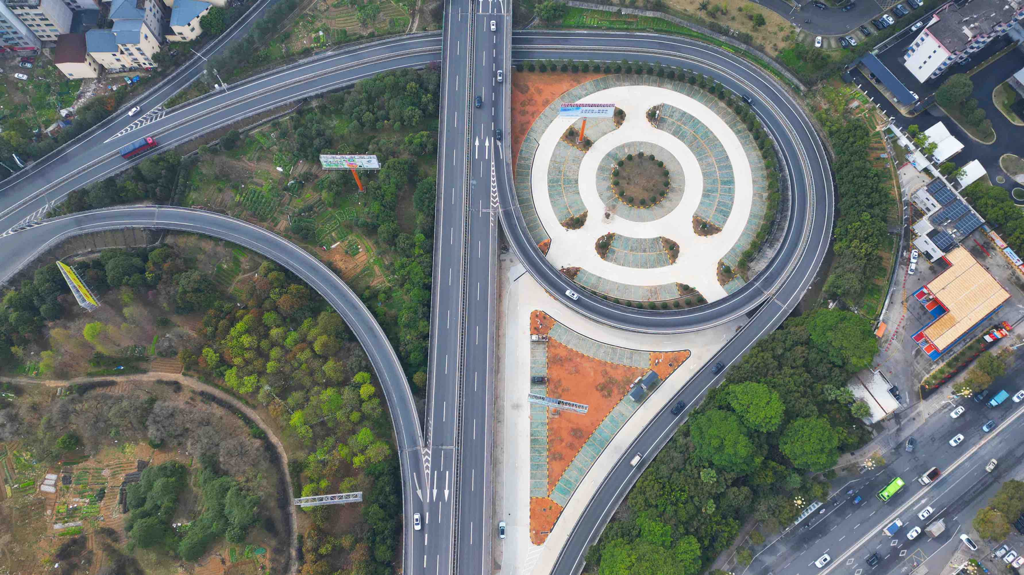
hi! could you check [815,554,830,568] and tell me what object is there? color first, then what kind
white car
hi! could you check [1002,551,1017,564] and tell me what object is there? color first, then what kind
white vehicle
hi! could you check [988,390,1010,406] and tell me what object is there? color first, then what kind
blue vehicle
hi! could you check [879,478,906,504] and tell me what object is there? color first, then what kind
green bus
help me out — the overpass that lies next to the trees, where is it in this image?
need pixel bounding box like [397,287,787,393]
[418,0,512,575]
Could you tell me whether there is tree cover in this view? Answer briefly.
Yes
